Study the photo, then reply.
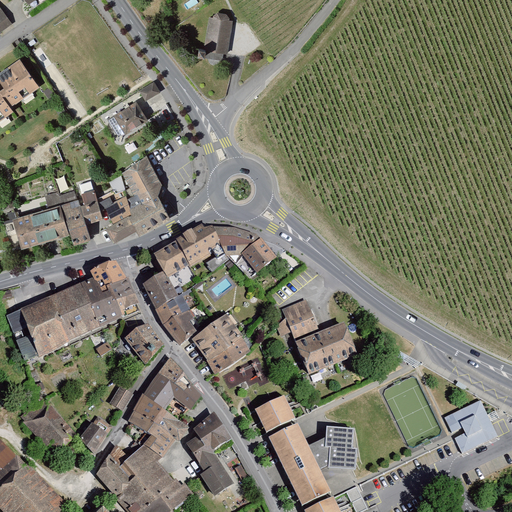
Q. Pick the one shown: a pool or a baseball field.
pool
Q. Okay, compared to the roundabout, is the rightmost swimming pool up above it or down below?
below it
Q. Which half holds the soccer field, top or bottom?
top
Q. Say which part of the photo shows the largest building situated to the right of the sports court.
bottom right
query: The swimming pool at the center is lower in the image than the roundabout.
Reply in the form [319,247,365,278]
[206,276,236,300]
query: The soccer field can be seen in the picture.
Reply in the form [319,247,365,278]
[33,0,142,112]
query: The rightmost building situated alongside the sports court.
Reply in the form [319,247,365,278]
[443,400,498,454]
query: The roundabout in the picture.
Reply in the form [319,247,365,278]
[200,132,285,226]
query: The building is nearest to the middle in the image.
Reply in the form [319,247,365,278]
[242,237,276,273]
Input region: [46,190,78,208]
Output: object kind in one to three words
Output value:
barn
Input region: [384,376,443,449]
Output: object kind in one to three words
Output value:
sports court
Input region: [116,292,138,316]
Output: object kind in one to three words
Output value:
house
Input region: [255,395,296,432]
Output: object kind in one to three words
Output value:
building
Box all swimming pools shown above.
[206,276,236,300]
[185,0,199,10]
